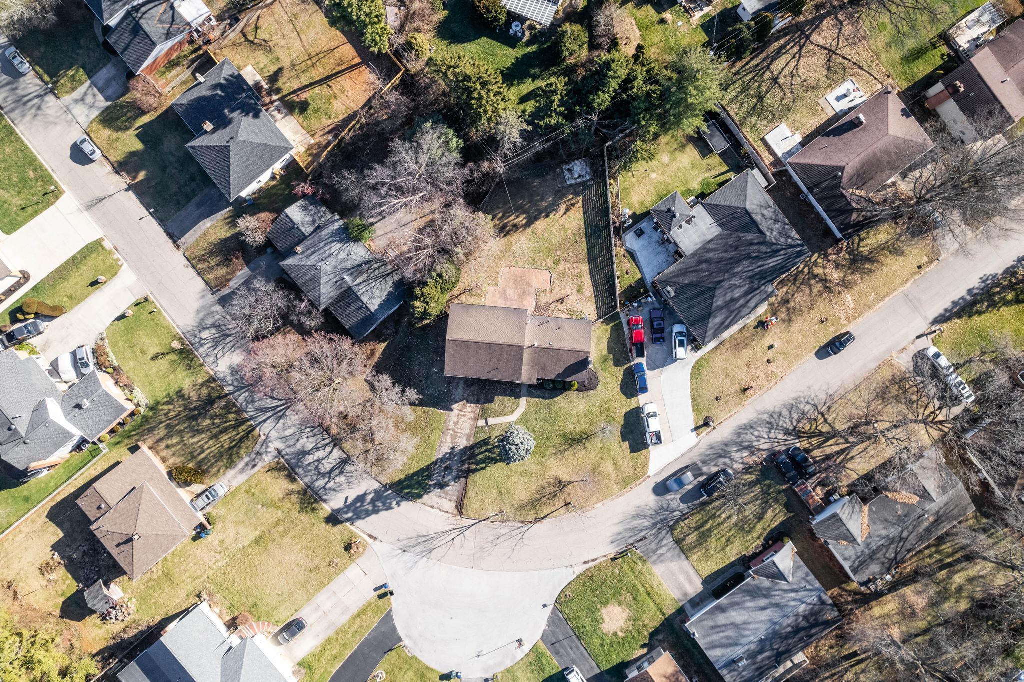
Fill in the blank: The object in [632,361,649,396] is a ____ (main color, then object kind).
blue car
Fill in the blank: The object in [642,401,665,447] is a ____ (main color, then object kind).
white truck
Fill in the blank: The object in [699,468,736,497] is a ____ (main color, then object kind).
black car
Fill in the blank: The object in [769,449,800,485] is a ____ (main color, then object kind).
black car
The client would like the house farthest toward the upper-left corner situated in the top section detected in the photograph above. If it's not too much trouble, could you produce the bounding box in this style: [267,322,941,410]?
[85,0,212,80]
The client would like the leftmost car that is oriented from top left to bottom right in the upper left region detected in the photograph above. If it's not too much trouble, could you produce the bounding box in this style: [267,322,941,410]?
[3,42,36,78]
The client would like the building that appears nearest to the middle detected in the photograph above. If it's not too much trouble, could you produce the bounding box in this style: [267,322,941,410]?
[444,303,595,384]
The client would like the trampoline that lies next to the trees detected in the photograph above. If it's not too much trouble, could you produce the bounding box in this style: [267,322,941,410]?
[700,120,731,154]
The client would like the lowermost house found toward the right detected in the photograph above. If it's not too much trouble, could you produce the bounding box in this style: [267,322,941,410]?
[623,640,690,682]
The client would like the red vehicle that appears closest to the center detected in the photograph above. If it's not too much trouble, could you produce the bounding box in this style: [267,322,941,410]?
[627,316,647,359]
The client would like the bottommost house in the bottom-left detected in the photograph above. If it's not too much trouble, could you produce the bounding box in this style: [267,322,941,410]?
[117,603,300,682]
